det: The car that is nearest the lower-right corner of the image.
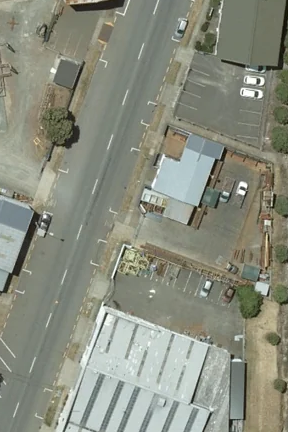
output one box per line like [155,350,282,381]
[221,284,235,306]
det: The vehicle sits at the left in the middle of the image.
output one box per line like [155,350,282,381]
[35,210,52,237]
